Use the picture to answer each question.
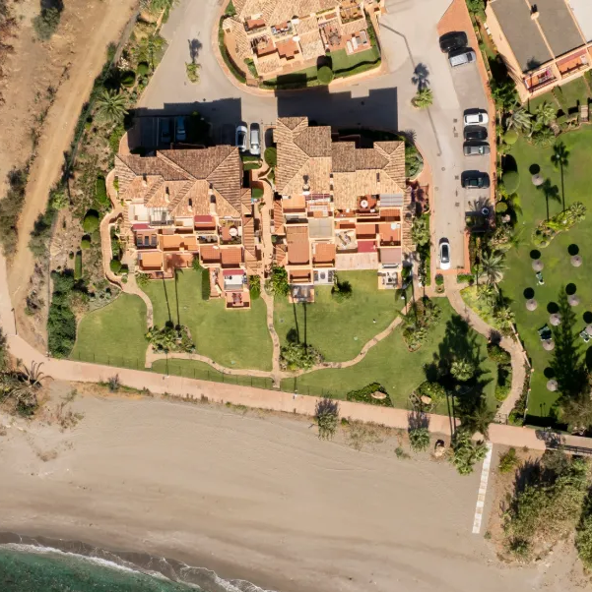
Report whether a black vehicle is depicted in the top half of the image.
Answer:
Yes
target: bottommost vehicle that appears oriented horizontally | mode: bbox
[460,172,490,186]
